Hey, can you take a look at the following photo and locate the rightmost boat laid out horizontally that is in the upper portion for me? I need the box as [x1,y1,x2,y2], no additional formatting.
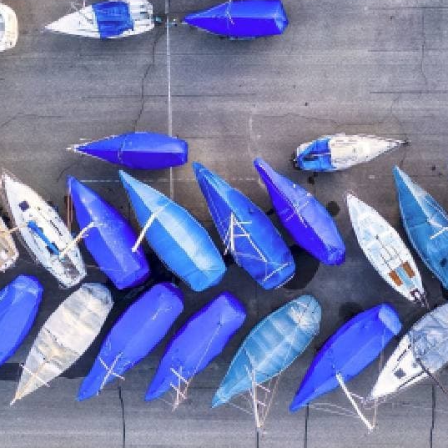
[289,131,407,171]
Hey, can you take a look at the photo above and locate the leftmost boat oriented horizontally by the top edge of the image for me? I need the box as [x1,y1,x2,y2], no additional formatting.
[45,1,163,43]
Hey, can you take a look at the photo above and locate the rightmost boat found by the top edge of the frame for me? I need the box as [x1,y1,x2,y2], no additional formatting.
[183,0,289,39]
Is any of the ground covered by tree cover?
No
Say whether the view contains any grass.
No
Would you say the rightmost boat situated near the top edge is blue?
Yes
